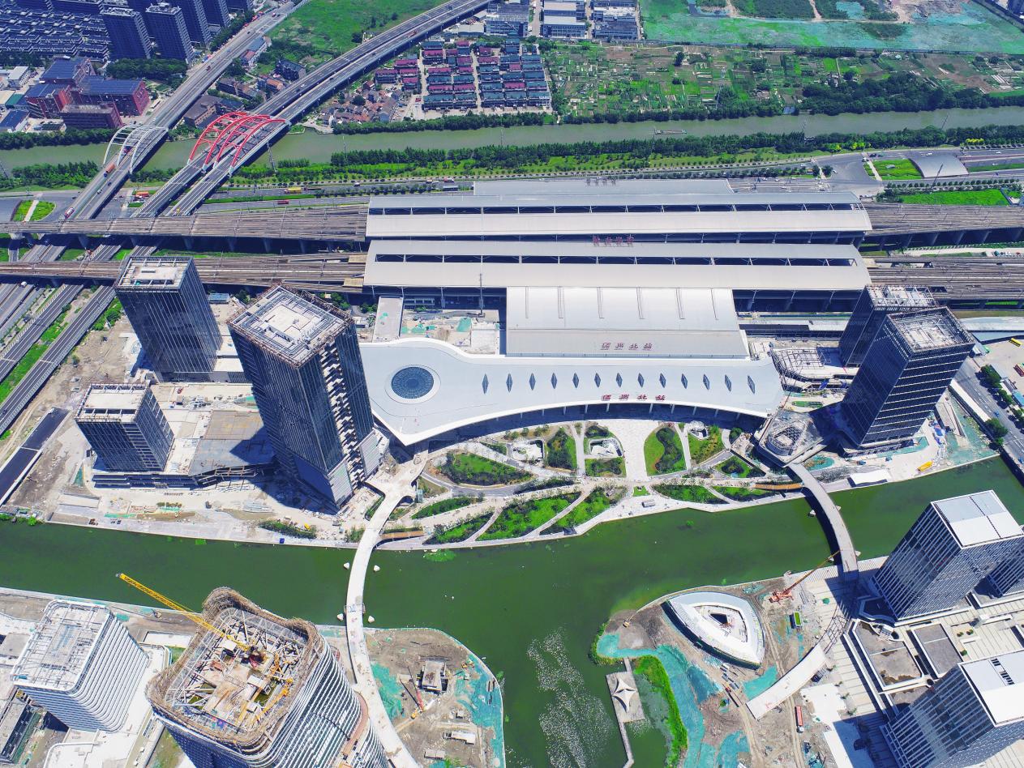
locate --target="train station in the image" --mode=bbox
[343,175,880,451]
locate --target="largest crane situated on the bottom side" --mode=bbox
[118,574,277,665]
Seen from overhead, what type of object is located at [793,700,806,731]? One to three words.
vehicle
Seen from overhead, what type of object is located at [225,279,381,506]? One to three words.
building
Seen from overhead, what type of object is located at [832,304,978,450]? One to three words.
building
